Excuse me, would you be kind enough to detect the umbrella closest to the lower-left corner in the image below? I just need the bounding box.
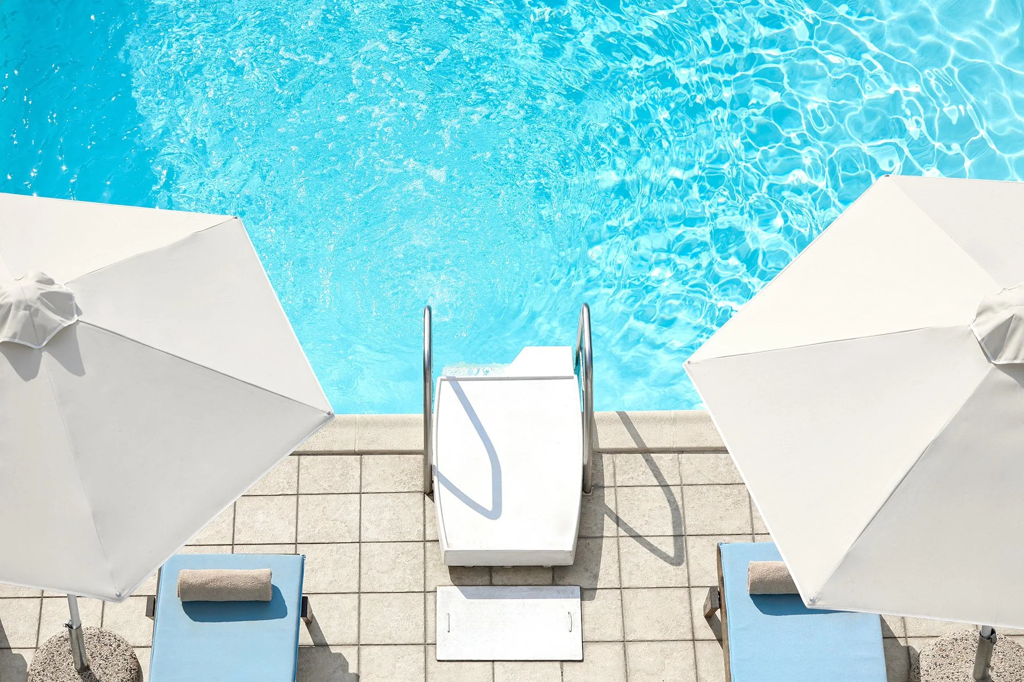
[0,197,334,682]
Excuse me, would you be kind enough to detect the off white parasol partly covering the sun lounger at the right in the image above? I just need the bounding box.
[685,175,1024,682]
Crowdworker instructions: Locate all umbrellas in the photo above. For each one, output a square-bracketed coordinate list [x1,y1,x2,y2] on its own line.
[685,175,1024,682]
[0,197,334,682]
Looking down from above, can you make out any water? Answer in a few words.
Yes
